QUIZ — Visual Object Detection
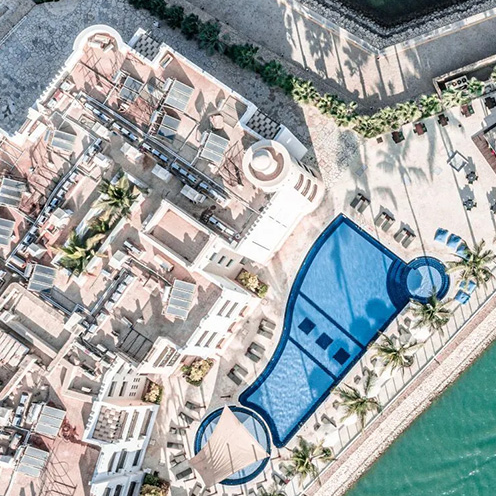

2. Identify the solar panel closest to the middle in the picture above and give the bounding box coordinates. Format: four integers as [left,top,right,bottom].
[162,279,199,320]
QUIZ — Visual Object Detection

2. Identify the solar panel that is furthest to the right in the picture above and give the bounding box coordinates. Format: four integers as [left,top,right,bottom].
[199,130,233,165]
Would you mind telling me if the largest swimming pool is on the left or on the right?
right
